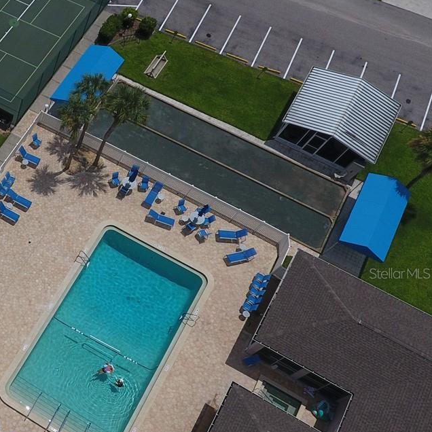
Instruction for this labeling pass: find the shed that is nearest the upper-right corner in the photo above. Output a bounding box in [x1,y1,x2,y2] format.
[273,67,401,172]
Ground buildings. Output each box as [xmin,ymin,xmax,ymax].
[205,247,432,432]
[273,67,401,172]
